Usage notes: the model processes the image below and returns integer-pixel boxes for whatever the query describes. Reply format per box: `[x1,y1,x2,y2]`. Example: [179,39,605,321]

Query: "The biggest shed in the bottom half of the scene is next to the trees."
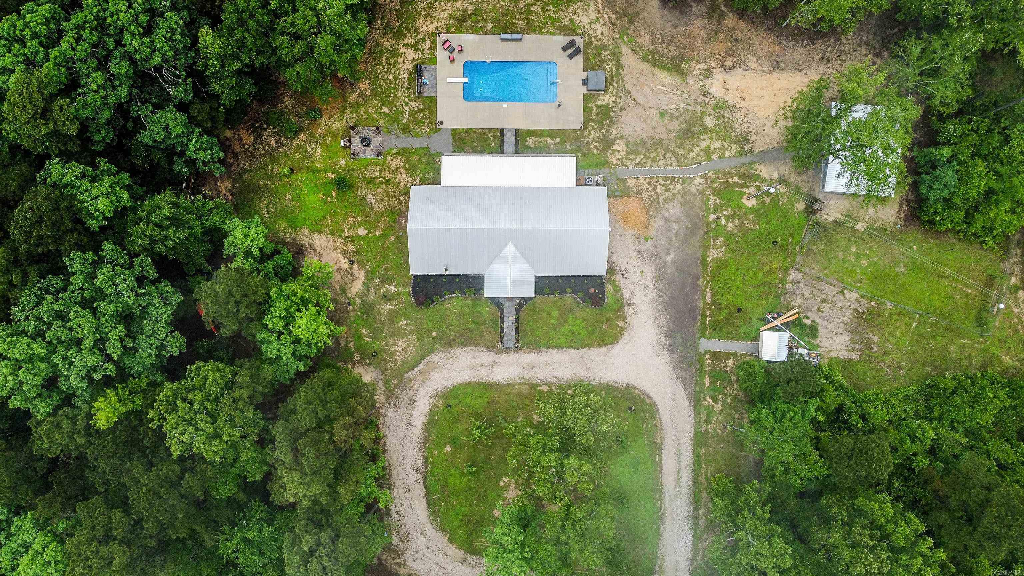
[756,331,789,361]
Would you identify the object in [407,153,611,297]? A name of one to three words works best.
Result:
house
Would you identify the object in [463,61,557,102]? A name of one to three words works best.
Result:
swimming pool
